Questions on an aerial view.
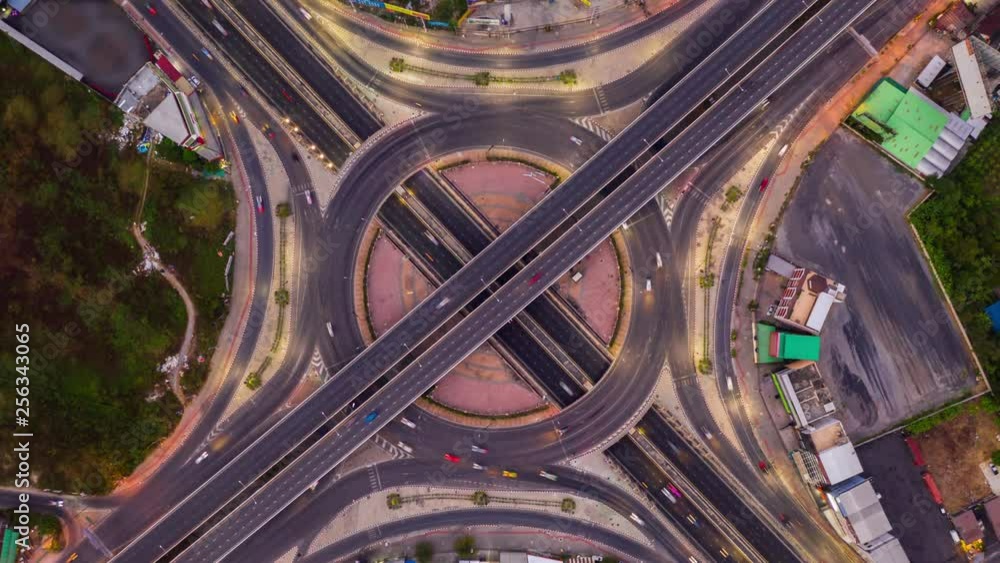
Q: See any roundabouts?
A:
Yes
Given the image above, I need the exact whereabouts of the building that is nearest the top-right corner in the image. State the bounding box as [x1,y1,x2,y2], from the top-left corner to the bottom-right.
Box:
[967,2,1000,43]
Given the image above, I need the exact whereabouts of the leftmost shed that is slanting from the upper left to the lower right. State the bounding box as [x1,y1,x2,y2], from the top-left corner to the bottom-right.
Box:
[0,20,90,84]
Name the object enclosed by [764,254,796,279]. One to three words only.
shed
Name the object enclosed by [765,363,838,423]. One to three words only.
building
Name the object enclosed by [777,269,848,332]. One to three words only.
building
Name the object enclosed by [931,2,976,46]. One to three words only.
house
